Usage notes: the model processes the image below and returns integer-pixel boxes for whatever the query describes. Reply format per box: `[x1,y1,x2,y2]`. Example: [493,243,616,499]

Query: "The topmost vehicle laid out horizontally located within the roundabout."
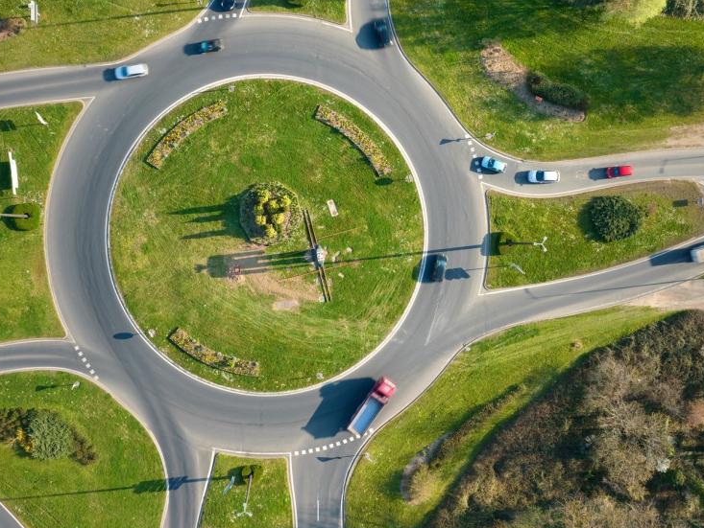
[191,39,224,55]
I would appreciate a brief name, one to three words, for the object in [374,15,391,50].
car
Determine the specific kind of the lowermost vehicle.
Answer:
truck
